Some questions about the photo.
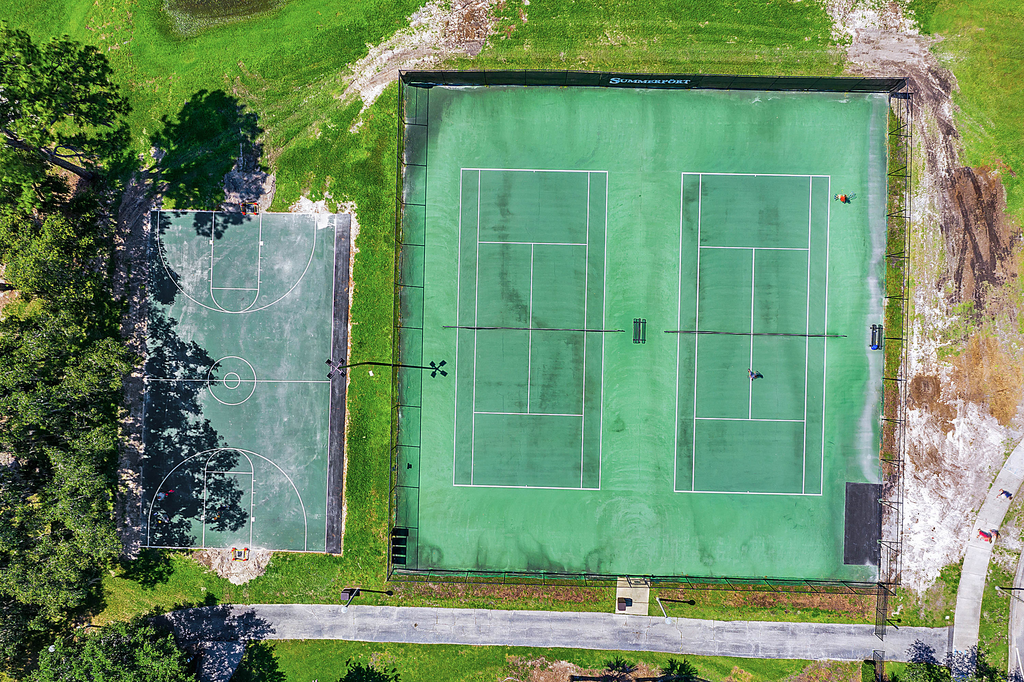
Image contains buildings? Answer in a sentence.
No, I can see no building in this picture.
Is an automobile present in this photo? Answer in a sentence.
No, this view has no automobile in it.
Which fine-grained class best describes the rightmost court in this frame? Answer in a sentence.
Looking closely, the rightmost court is a tennis court.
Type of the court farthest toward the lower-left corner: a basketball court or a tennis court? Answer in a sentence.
I'd identify the court farthest toward the lower-left corner as a basketball court.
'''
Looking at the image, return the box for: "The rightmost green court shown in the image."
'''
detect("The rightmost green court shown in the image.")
[674,172,830,496]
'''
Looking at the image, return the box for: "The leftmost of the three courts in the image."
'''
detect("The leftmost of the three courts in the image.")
[140,209,350,554]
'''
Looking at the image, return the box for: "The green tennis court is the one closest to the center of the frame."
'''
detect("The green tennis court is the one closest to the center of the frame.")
[453,168,608,490]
